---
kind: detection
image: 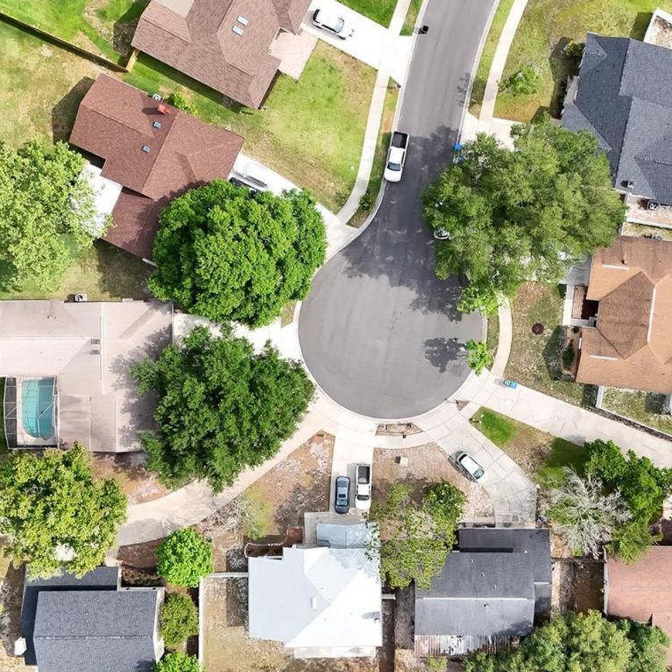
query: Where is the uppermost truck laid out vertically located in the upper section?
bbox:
[384,130,406,182]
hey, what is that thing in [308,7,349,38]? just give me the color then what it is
white car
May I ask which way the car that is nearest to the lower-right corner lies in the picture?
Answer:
diagonally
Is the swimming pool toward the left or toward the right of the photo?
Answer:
left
